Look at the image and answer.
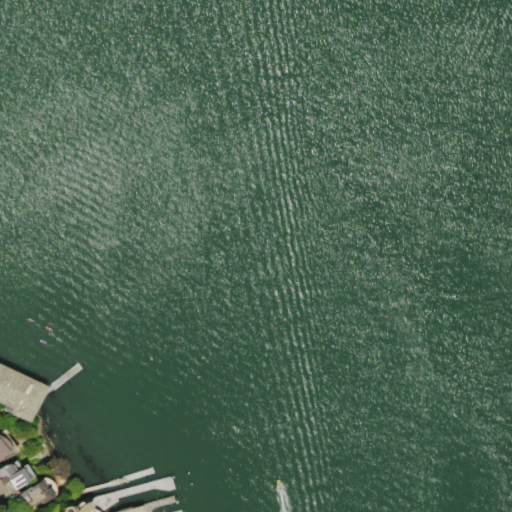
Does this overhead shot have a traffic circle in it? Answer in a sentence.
No, the frame has no traffic circle in it.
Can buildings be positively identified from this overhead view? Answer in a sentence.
Yes, a building appears in the view.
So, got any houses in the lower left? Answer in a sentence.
Yes, a house appears in the lower left.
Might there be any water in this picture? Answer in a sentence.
Yes, some water is visible.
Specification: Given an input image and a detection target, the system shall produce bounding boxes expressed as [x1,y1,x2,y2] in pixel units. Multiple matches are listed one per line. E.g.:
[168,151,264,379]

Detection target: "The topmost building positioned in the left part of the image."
[0,362,50,422]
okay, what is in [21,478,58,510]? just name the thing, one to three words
house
